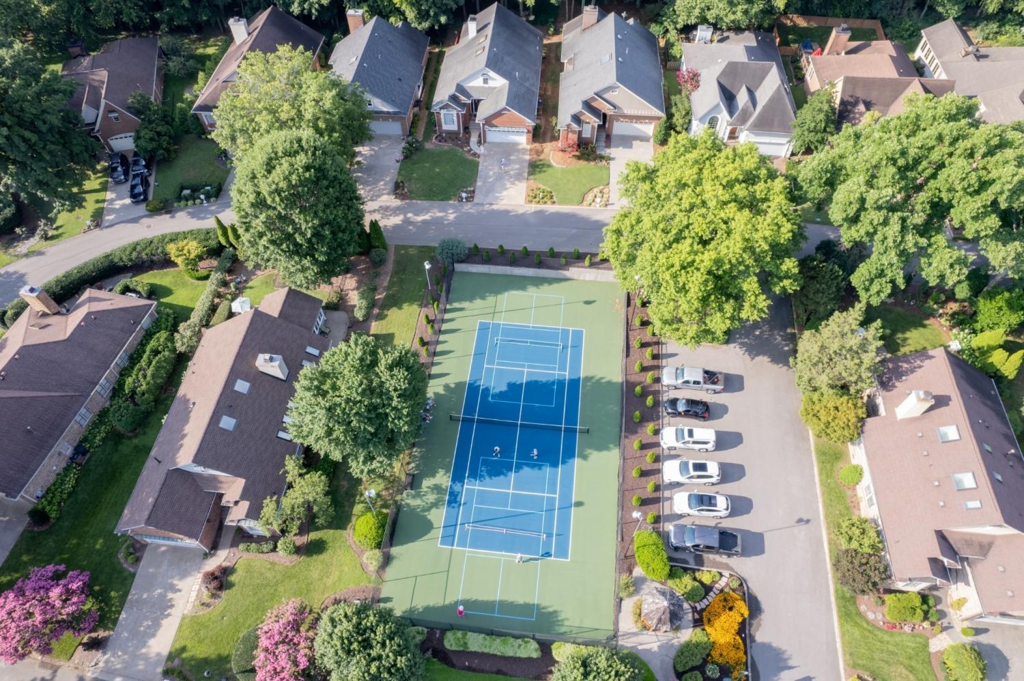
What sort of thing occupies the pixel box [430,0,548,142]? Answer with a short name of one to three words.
house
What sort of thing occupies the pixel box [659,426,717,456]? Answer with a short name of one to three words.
car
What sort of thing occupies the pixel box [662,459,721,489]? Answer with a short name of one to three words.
car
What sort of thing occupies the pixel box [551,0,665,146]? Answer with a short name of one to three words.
house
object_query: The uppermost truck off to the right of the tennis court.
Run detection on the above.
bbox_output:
[662,368,725,396]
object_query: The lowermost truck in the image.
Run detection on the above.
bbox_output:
[668,525,745,561]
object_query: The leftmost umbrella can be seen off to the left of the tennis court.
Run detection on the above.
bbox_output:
[230,296,257,316]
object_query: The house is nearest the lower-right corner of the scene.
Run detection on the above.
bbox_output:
[851,349,1024,636]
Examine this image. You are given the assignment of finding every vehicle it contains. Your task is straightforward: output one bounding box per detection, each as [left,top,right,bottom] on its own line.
[662,368,725,396]
[664,397,709,423]
[127,152,150,179]
[107,153,130,186]
[128,173,150,204]
[659,426,717,456]
[662,459,721,489]
[668,525,745,561]
[672,491,731,523]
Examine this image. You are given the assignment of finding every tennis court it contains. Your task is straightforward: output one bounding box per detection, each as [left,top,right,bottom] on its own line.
[383,269,624,642]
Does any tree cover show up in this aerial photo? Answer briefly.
Yes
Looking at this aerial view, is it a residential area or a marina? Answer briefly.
residential area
